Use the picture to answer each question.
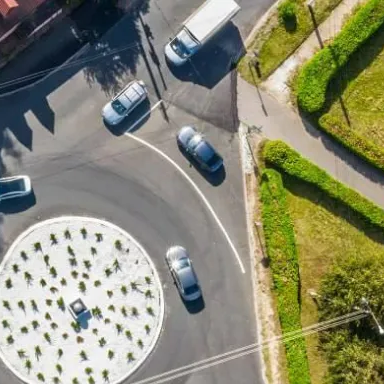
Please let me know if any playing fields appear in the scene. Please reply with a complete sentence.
No, there appears to be no playing field in this shot.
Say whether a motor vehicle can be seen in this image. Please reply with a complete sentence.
Yes, a motor vehicle is visible in the scene.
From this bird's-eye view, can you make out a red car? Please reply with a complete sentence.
No, I can't see a single red car in this photo.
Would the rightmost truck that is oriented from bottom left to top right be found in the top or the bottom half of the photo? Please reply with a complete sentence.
It is in the top half that the rightmost truck that is oriented from bottom left to top right appears.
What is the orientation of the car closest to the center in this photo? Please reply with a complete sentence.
Seen from above, the car closest to the center lies at an angle.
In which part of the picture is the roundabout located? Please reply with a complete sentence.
Look in the bottom left portion of the view to spot the roundabout.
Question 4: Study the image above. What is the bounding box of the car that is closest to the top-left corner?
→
[101,79,148,125]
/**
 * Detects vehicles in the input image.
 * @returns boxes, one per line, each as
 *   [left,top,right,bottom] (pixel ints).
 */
[0,174,33,200]
[101,79,148,125]
[168,246,200,299]
[177,124,224,173]
[168,0,247,63]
